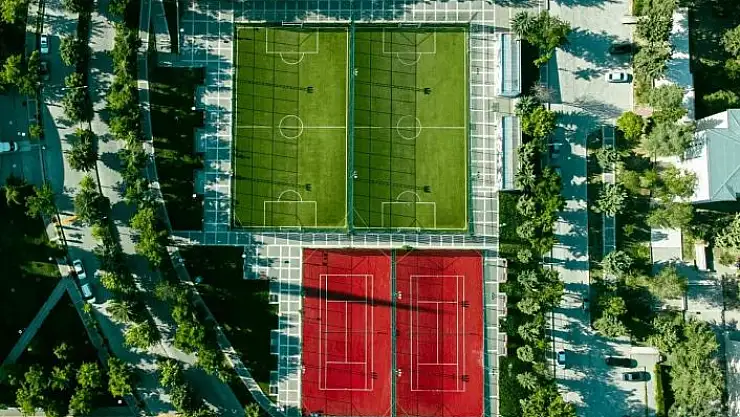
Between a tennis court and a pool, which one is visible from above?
tennis court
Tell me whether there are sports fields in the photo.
Yes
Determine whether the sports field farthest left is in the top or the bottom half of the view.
top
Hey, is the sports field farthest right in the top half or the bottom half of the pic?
top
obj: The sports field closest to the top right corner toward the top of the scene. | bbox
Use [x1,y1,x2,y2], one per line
[351,23,468,231]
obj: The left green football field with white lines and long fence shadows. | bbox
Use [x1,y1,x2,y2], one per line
[233,23,351,231]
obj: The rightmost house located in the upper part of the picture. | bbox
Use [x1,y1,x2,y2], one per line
[684,108,740,207]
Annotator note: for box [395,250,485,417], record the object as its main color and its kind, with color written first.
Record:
red tennis court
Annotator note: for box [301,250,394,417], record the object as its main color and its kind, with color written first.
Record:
red tennis court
